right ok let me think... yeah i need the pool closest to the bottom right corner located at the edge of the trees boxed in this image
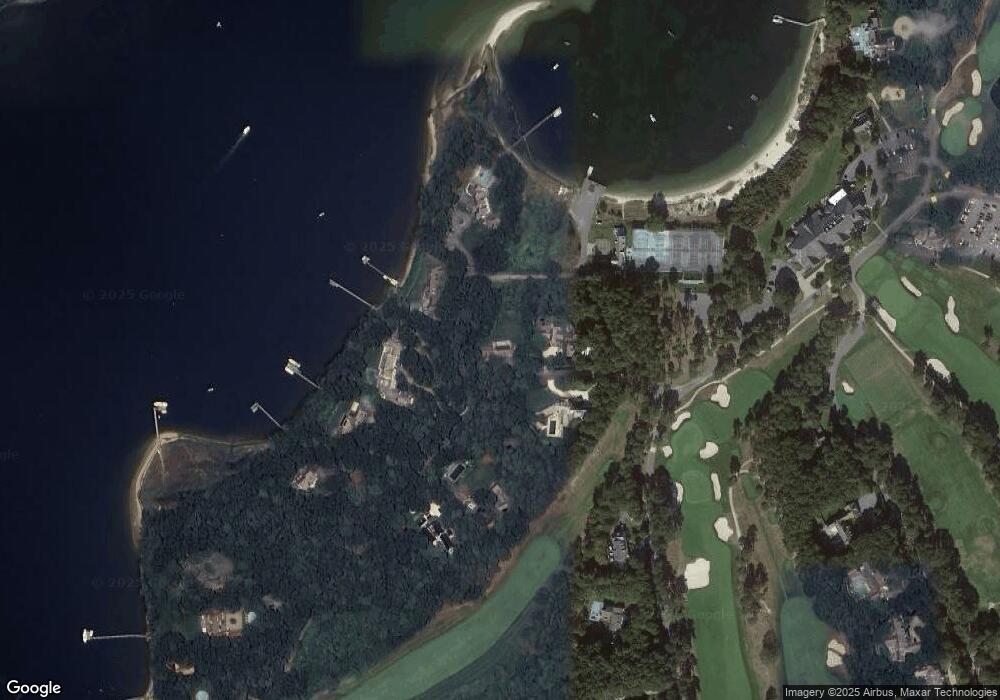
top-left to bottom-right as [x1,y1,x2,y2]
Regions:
[850,573,869,597]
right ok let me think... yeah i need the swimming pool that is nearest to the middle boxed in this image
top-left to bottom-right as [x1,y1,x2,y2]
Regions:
[547,411,562,437]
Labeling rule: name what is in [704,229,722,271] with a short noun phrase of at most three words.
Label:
tennis court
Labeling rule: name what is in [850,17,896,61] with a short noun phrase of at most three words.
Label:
house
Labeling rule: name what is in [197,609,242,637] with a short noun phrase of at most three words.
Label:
house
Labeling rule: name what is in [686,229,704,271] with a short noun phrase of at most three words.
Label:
tennis court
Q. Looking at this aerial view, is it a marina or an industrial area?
marina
